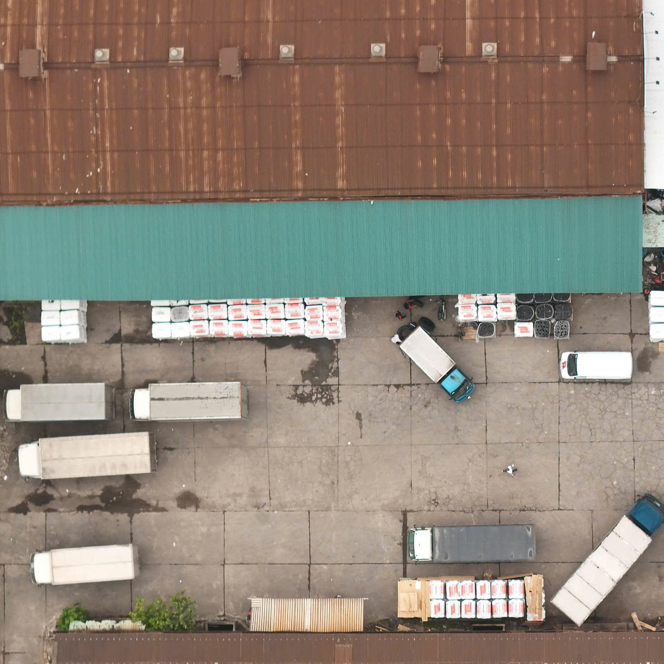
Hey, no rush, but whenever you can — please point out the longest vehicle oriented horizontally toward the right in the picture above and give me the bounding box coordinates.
[408,522,537,564]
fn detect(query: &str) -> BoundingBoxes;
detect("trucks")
[551,487,664,625]
[399,326,480,407]
[27,543,143,589]
[0,383,118,426]
[130,381,248,423]
[16,431,160,482]
[408,522,537,564]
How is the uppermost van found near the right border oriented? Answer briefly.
from side to side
